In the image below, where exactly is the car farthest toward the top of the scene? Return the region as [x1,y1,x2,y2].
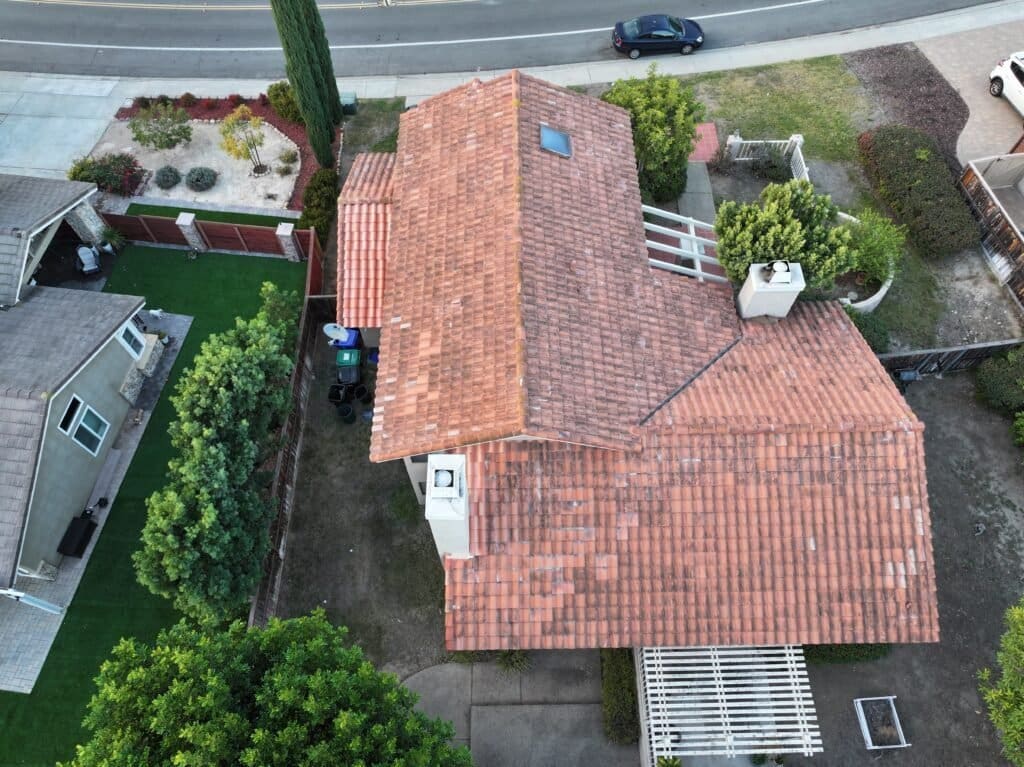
[613,10,705,58]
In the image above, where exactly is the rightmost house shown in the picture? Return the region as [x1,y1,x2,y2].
[333,67,943,652]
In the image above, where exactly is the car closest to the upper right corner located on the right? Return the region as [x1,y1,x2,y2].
[988,51,1024,117]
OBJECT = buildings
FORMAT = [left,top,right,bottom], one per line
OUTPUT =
[333,67,943,652]
[0,180,168,615]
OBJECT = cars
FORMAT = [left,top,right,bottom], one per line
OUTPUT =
[988,51,1024,117]
[613,10,705,58]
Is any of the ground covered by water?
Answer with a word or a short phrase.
No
